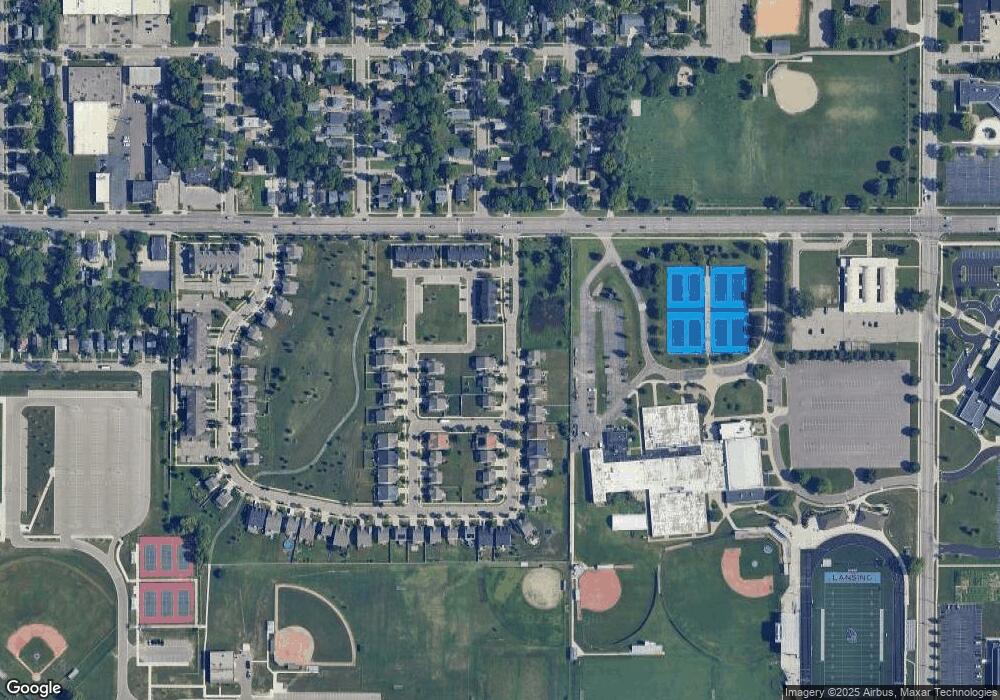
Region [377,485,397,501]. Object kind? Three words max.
house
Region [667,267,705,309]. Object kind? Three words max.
tennis court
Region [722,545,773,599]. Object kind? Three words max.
baseball field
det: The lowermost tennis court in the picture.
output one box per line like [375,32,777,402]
[140,582,194,624]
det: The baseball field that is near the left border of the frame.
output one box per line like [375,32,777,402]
[0,555,117,681]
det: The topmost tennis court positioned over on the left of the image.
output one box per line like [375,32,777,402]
[140,536,194,579]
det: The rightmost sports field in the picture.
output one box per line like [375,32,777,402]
[812,544,893,700]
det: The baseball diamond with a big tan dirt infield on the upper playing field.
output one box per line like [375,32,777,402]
[765,62,817,114]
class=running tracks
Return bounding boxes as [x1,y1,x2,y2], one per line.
[801,534,904,700]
